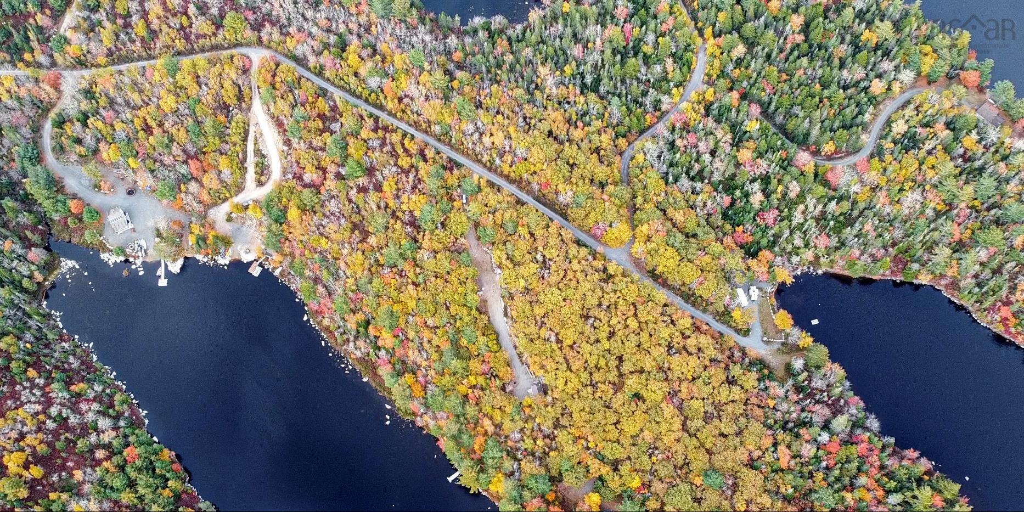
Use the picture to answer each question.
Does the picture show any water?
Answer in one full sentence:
Yes, some water is visible.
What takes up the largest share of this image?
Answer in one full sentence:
The bulk of the photo consists of trees.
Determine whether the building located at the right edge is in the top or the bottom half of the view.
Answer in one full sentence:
It is in the top half that the building located at the right edge appears.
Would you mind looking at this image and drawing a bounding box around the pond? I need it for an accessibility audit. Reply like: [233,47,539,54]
[420,0,549,35]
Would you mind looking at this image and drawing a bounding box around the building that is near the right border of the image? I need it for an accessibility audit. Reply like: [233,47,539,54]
[976,102,1005,128]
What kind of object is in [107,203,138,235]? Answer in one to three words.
house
